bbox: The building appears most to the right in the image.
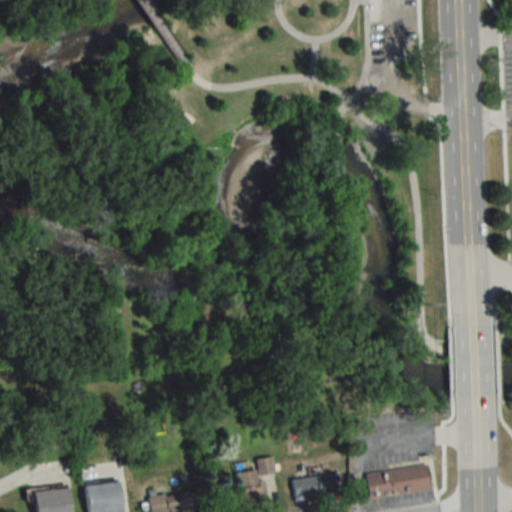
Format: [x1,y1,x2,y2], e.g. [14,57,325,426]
[367,464,433,506]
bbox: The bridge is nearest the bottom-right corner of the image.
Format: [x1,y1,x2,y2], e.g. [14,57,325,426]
[448,313,502,424]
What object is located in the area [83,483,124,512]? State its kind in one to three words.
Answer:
house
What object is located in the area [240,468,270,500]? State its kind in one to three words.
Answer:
house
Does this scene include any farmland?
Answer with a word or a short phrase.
No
